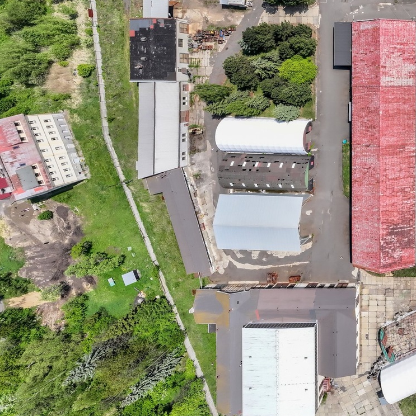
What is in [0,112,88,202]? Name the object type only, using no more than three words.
building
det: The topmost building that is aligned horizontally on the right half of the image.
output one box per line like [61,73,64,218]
[211,118,311,153]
